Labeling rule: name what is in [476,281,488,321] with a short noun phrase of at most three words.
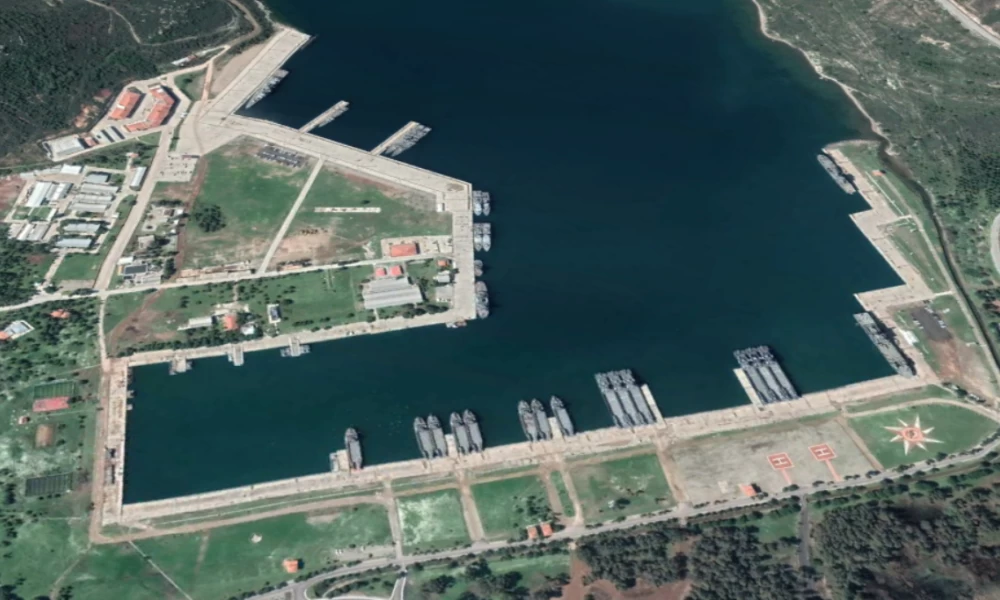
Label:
ship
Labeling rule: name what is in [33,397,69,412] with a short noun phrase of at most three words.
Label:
basketball court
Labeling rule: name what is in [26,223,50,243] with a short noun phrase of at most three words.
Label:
building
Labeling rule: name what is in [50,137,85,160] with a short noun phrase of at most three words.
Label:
building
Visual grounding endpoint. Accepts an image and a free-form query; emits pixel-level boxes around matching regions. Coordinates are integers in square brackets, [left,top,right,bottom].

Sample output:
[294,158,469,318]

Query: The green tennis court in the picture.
[33,379,75,400]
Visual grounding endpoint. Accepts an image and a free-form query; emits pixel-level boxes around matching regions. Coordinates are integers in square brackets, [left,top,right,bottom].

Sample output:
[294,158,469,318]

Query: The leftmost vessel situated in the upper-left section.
[246,71,291,111]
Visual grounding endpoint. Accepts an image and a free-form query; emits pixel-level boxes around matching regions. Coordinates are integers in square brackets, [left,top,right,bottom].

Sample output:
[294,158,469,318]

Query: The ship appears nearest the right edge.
[854,314,911,383]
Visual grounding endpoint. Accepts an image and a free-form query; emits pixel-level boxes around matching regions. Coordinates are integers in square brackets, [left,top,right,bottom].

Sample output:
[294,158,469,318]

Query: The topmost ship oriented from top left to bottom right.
[819,156,855,197]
